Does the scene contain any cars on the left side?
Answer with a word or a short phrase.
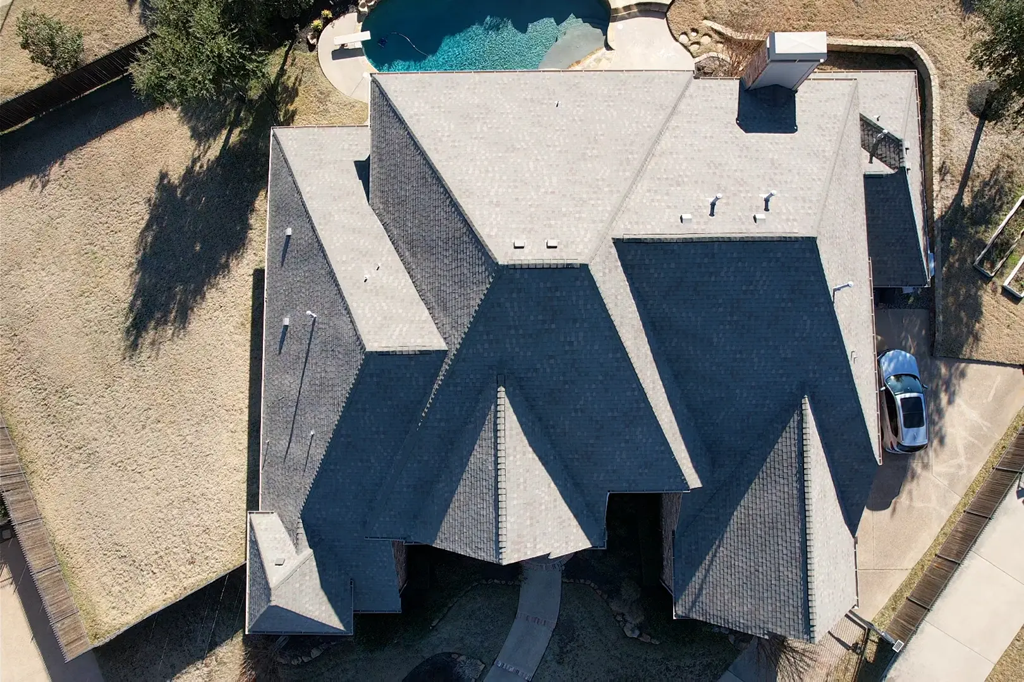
No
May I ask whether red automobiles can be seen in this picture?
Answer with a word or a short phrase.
No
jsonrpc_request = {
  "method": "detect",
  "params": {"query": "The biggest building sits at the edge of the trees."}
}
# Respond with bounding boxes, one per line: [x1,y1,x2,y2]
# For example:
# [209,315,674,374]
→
[240,30,932,643]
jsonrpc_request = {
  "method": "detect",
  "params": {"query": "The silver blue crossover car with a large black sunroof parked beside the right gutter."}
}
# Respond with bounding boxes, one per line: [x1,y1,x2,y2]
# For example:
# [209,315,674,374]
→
[879,348,936,455]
